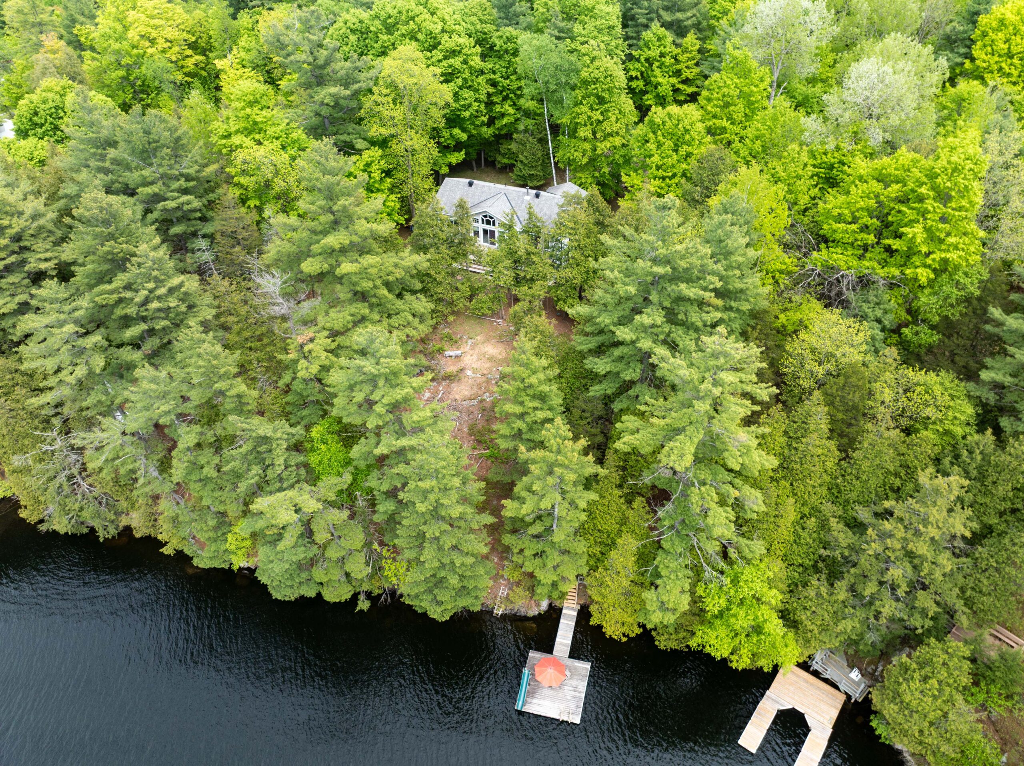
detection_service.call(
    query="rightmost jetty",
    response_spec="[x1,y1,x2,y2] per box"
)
[737,659,845,766]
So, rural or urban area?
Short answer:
rural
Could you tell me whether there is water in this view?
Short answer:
Yes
